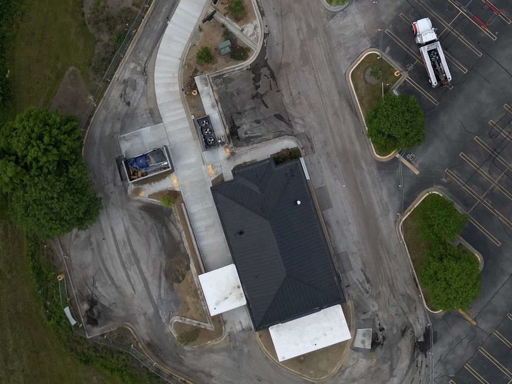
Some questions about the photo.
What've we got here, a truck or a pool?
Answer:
truck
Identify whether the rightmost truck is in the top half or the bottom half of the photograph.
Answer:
top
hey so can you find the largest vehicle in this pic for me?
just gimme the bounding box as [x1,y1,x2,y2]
[414,21,454,96]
